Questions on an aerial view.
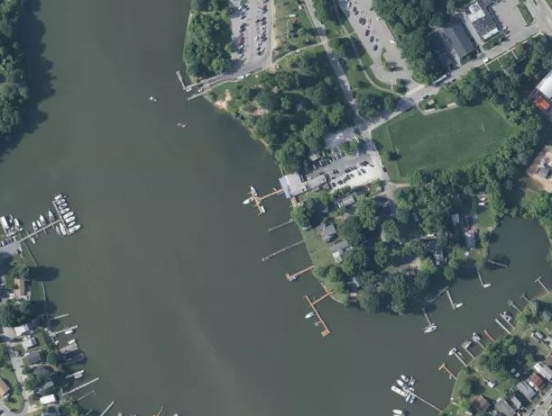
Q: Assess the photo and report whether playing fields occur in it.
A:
Yes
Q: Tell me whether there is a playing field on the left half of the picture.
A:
No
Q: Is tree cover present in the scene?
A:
Yes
